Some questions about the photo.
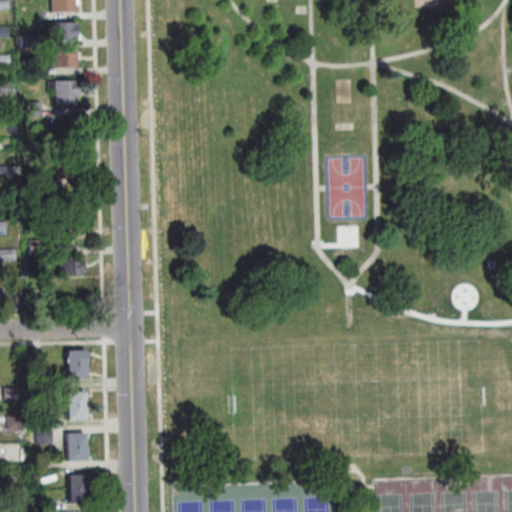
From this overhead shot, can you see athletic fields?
Yes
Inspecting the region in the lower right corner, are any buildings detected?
No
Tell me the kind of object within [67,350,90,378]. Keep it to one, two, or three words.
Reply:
house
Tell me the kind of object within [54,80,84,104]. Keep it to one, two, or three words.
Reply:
house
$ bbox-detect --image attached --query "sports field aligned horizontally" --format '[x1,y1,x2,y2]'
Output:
[230,341,482,458]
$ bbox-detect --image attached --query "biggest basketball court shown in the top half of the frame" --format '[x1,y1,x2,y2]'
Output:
[326,156,368,220]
